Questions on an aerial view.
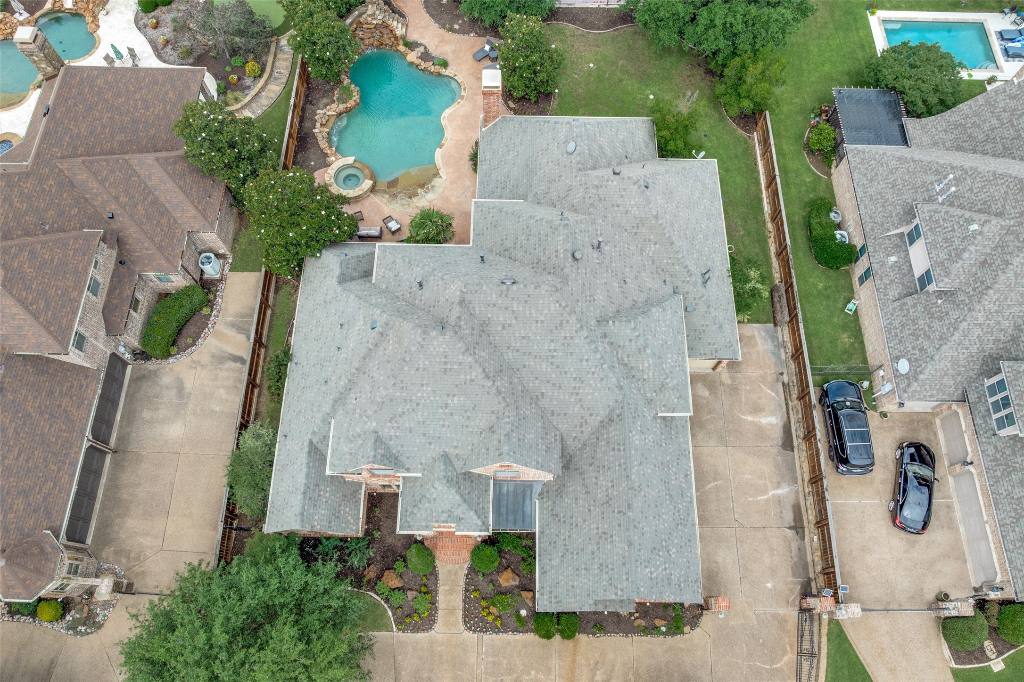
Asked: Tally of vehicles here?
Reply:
2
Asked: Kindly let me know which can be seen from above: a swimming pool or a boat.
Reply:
swimming pool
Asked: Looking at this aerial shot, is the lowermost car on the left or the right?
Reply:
right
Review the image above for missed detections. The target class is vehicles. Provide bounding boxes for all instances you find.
[888,436,944,536]
[819,379,880,476]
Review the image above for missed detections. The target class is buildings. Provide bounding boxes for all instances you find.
[834,57,1024,602]
[263,65,743,615]
[0,18,242,603]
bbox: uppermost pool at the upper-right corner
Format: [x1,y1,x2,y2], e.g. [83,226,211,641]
[877,16,1005,72]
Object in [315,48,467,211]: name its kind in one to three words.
swimming pool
